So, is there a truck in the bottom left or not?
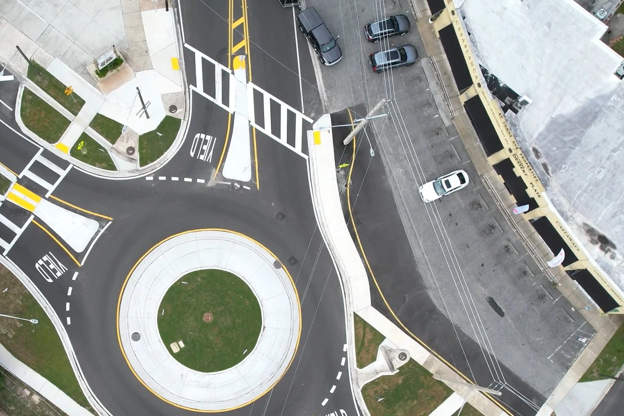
No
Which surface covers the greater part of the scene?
paved ground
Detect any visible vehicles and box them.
[295,5,342,69]
[279,0,301,10]
[368,45,419,74]
[363,14,412,44]
[417,170,472,201]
